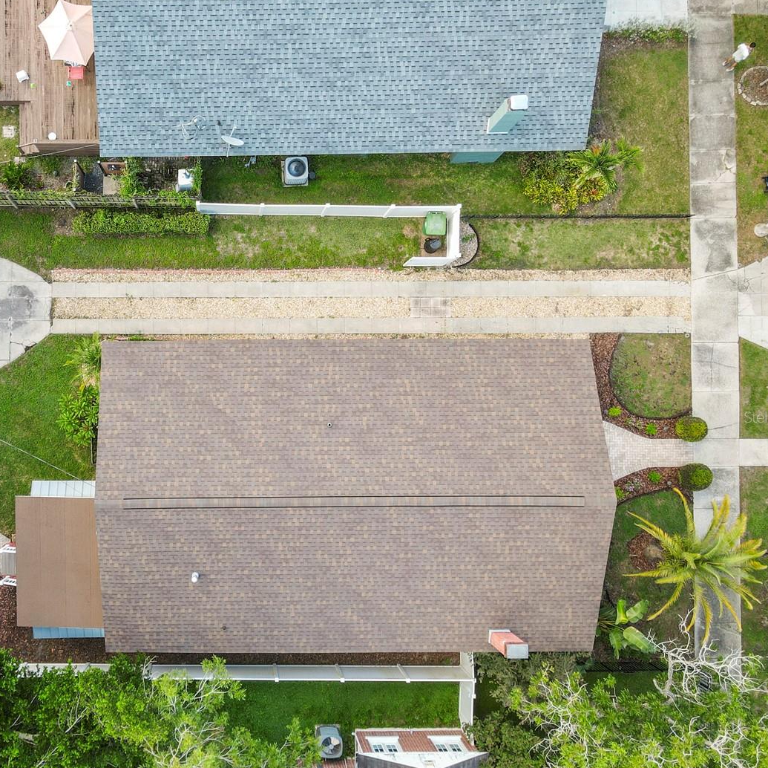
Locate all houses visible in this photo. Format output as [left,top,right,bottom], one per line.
[90,0,609,164]
[15,333,618,660]
[305,725,495,768]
